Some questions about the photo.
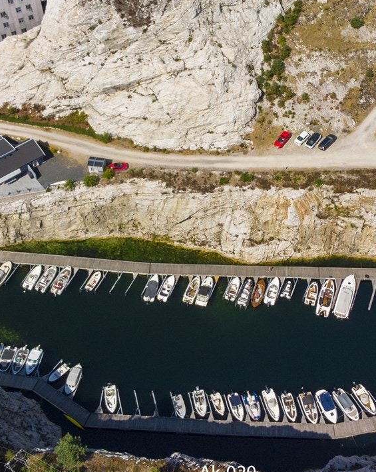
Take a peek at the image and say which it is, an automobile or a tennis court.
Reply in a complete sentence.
There is an automobile in the scene.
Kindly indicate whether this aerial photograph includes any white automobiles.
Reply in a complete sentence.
Yes, this view includes a white automobile.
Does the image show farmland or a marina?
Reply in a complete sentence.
This looks like a marina.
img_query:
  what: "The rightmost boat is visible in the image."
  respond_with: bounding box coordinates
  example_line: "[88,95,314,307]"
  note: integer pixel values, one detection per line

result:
[349,381,375,416]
